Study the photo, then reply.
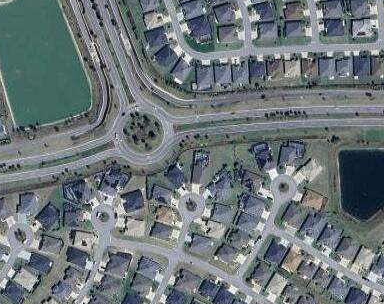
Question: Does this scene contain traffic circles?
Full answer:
Yes, there's a traffic circle here.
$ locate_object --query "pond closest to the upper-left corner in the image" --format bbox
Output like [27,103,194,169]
[0,0,91,129]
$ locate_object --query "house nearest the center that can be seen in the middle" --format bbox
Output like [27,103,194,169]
[190,151,208,178]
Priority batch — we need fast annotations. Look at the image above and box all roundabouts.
[114,103,173,161]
